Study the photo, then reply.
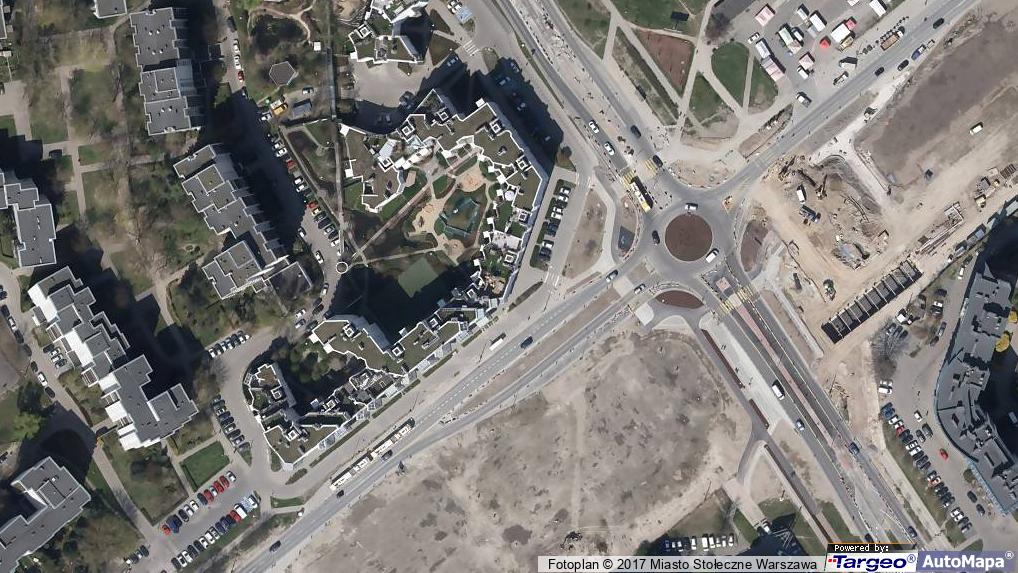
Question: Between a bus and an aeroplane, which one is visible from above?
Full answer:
The image shows a bus.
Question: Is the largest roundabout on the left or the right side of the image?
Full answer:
You can find the largest roundabout on the right side of the picture.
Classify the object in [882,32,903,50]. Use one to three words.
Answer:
vehicle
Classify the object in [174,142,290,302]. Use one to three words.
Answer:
building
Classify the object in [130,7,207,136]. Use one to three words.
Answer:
building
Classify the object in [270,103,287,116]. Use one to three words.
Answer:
vehicle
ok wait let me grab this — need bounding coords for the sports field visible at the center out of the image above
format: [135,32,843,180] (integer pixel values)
[398,257,438,312]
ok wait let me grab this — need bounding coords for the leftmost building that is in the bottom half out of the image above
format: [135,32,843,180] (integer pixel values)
[0,452,105,573]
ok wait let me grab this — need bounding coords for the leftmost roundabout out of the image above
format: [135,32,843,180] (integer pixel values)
[642,193,737,284]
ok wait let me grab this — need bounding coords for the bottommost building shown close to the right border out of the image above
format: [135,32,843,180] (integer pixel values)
[931,271,1018,515]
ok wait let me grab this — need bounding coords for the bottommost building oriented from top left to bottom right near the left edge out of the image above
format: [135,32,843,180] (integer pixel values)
[28,265,211,451]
